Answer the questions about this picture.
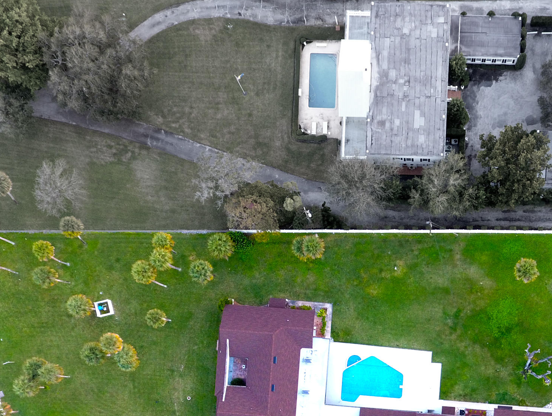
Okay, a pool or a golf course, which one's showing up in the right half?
pool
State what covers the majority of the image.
grass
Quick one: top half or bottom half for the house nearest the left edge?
bottom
